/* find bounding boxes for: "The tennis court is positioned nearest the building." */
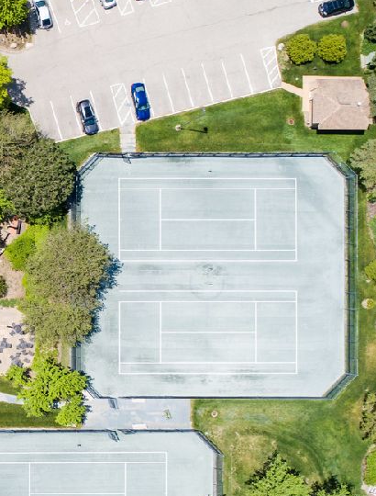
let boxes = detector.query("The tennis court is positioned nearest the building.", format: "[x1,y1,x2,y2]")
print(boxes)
[118,178,298,261]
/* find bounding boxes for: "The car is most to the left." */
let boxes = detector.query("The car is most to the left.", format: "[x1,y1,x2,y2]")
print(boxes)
[34,0,57,29]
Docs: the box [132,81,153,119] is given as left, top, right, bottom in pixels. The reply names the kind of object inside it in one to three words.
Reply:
car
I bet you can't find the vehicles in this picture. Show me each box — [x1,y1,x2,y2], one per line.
[319,0,360,15]
[101,0,117,9]
[34,0,57,29]
[132,81,153,119]
[77,97,99,134]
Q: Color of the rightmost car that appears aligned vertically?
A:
blue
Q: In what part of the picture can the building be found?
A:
top right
